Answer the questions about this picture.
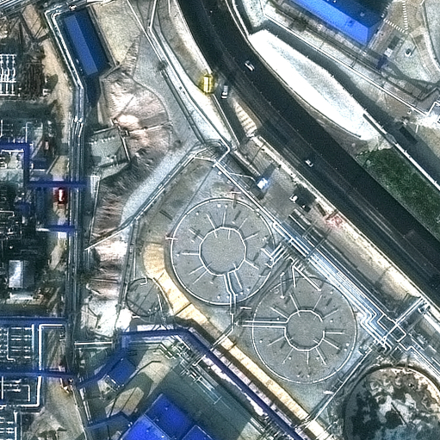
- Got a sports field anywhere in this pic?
No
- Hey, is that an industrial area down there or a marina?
industrial area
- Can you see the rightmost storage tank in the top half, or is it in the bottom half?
bottom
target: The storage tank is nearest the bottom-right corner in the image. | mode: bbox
[342,365,440,440]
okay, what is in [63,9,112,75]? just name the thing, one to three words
building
